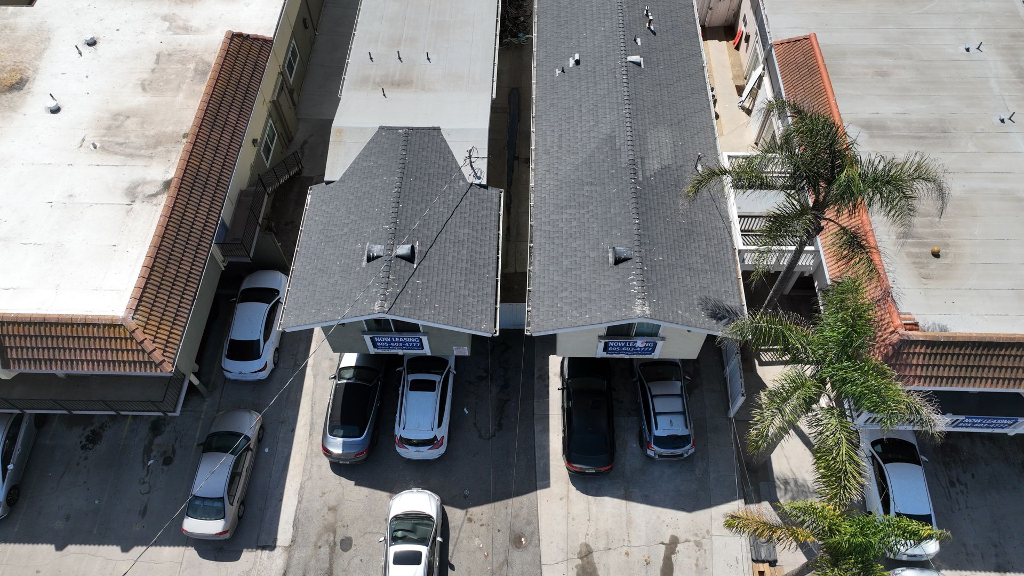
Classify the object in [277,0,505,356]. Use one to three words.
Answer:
building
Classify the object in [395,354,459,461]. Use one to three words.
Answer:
car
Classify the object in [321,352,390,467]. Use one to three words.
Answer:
car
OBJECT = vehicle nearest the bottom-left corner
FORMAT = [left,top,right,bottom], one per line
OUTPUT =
[0,411,43,514]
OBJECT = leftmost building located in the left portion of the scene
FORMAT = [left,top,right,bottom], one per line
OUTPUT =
[0,0,326,416]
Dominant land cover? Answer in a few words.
buildings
